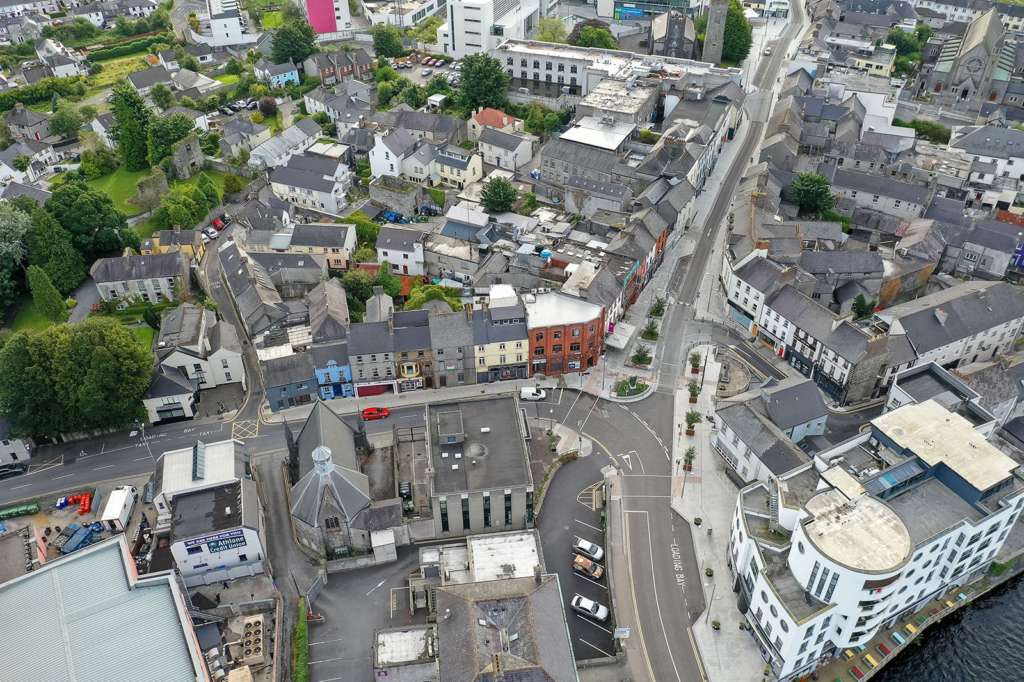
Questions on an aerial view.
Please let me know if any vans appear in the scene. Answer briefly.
Yes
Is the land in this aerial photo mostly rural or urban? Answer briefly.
urban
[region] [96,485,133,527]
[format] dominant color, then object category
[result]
white truck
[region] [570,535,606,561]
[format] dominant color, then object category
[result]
white car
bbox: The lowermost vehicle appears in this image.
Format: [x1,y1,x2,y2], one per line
[569,592,610,621]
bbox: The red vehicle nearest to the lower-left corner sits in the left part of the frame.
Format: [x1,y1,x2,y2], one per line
[361,405,389,420]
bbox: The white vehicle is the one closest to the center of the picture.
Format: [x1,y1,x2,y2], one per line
[520,385,546,400]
